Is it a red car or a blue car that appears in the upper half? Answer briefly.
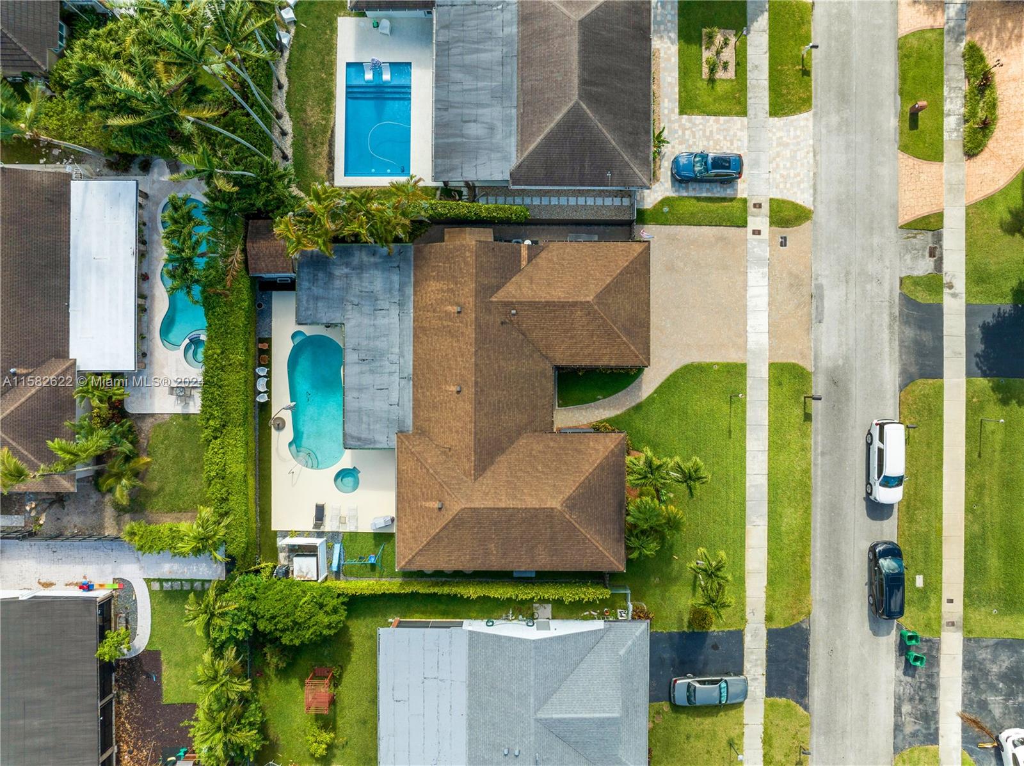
blue car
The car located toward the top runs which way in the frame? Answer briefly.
from side to side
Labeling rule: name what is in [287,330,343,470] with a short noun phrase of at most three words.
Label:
swimming pool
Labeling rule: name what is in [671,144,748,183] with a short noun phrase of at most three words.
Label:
car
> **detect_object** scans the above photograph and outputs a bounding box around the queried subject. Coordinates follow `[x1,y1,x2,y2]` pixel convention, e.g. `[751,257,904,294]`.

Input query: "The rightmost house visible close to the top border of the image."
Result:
[348,0,653,200]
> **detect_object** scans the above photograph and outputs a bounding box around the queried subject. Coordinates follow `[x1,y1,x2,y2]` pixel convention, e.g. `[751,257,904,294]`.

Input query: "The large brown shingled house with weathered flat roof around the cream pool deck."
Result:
[295,228,652,578]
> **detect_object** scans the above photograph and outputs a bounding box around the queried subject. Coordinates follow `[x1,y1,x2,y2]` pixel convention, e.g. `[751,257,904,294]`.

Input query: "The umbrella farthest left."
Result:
[270,402,297,429]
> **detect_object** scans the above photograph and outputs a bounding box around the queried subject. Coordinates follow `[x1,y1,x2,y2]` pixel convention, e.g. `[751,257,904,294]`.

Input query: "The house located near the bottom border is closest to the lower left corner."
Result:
[0,577,115,766]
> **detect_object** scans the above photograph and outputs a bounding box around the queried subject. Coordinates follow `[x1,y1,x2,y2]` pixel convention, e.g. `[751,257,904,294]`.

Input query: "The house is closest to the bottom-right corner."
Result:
[376,618,651,766]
